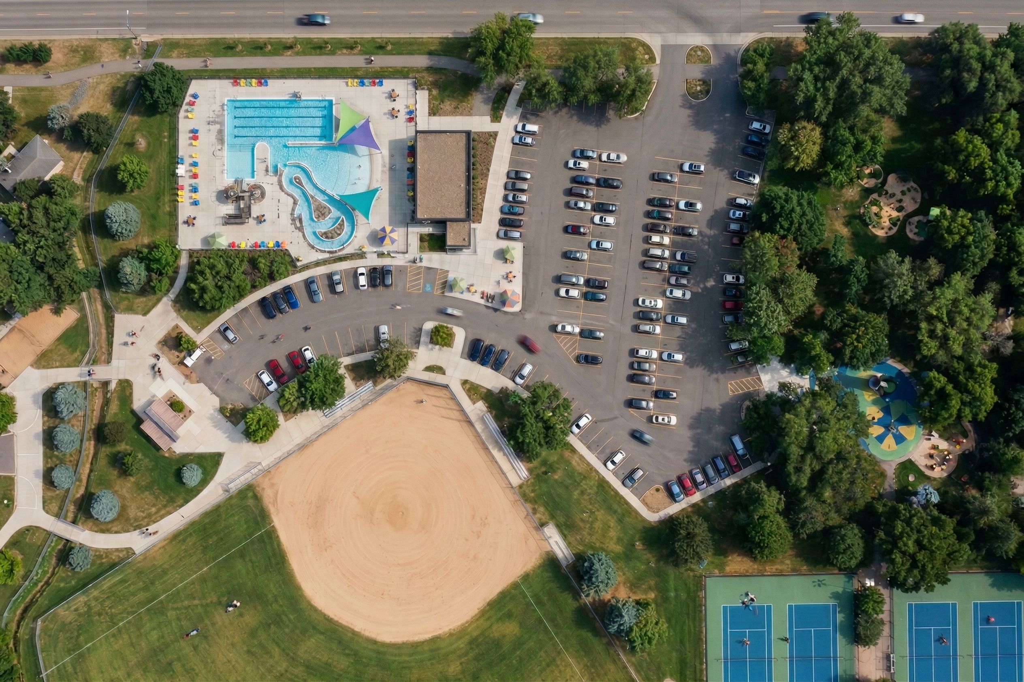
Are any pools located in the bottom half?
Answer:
No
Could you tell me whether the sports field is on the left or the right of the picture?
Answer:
left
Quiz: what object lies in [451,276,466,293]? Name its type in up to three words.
umbrella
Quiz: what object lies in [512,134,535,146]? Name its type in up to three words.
vehicle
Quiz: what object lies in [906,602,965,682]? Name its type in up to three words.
tennis court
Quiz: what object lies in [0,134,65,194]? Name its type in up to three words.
house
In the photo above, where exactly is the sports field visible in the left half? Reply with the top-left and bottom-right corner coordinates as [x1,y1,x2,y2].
[37,379,637,682]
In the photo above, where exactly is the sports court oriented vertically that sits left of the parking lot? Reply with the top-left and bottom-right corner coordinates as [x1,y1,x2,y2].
[17,410,41,509]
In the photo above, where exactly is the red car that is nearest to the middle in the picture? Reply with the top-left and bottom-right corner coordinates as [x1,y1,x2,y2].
[517,333,538,350]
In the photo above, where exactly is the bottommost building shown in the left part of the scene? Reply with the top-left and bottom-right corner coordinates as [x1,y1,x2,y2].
[140,398,184,451]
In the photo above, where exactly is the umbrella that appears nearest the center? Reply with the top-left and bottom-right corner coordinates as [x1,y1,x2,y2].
[500,288,520,309]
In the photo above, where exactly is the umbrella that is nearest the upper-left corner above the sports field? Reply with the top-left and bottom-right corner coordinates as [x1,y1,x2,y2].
[207,231,225,249]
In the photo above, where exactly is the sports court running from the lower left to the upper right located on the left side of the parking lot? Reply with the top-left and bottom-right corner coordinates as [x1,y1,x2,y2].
[0,297,80,388]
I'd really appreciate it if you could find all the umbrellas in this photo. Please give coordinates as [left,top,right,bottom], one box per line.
[500,288,520,309]
[207,231,225,249]
[451,276,466,293]
[501,246,517,260]
[378,226,397,245]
